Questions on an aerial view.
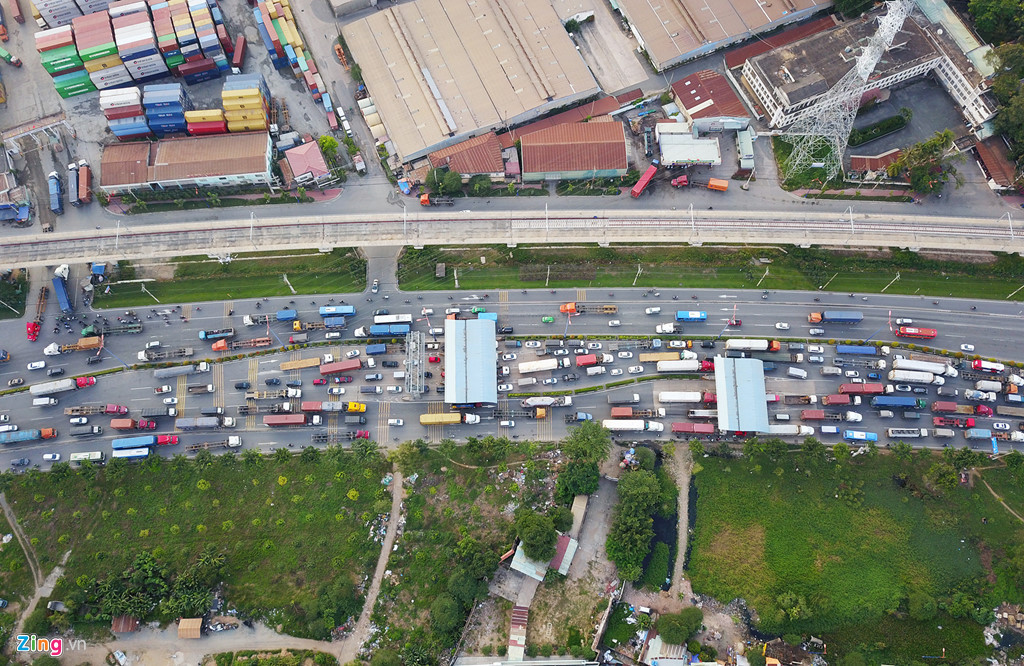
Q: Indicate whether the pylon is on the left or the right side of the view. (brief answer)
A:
right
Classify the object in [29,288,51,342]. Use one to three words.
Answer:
truck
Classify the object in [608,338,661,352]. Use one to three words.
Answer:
vehicle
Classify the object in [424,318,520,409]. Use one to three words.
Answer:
toll station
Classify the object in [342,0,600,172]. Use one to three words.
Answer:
warehouse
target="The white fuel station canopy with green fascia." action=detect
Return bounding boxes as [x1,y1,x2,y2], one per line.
[660,134,721,171]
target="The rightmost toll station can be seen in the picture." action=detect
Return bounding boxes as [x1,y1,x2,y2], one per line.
[687,358,785,439]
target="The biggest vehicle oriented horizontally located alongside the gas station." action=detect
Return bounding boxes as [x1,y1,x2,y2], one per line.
[670,176,728,193]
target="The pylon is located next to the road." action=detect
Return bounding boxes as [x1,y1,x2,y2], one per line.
[781,0,924,184]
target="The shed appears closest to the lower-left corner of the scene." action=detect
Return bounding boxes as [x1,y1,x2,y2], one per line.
[112,616,143,632]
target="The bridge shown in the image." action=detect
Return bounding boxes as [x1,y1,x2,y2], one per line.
[0,210,1024,274]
